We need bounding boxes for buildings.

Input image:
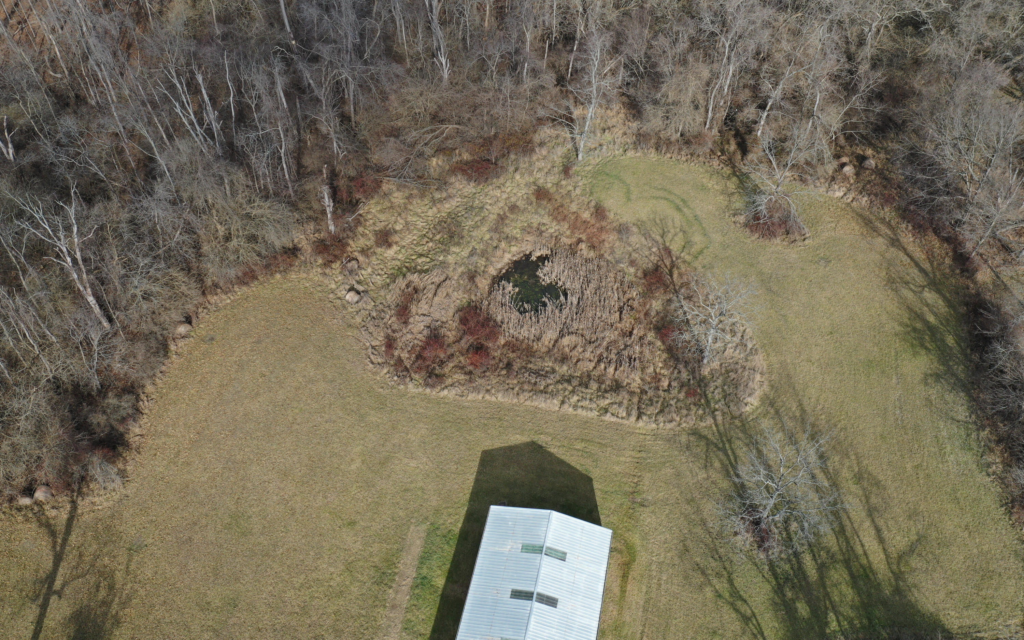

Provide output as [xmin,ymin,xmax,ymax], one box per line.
[452,504,614,640]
